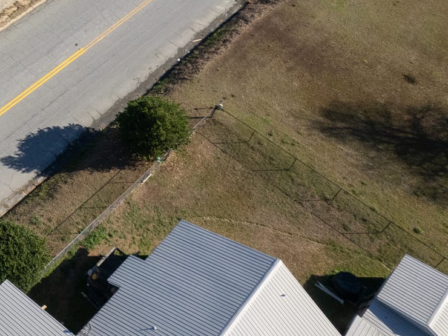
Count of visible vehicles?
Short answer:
0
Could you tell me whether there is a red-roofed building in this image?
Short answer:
No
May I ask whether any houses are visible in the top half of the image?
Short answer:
No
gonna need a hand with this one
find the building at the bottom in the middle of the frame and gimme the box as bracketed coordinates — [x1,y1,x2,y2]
[74,218,340,336]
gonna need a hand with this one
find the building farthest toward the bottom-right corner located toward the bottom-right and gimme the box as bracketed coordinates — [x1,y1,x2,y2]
[350,253,448,336]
